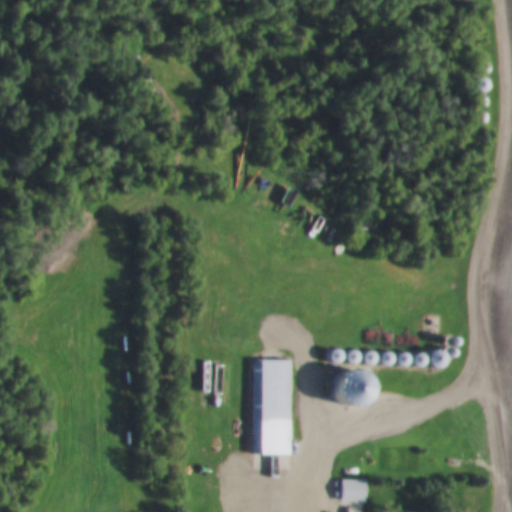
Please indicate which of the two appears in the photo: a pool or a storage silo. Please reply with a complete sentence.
Visible in the photo is a storage silo.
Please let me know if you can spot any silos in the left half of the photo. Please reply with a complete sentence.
No, no silo is visible in the left half of the photo.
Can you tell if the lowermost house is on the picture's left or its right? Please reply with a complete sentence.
The lowermost house sits on the right side.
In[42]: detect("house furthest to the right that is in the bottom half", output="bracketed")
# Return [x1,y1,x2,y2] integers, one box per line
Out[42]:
[338,478,370,505]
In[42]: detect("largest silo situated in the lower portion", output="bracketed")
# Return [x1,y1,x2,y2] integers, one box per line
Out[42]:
[330,366,380,407]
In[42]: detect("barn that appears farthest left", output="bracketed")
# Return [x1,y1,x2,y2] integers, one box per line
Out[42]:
[256,358,293,456]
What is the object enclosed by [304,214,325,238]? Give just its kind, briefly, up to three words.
vehicle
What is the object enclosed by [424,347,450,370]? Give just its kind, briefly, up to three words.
silo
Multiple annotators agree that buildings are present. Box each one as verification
[256,358,293,456]
[338,478,370,505]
